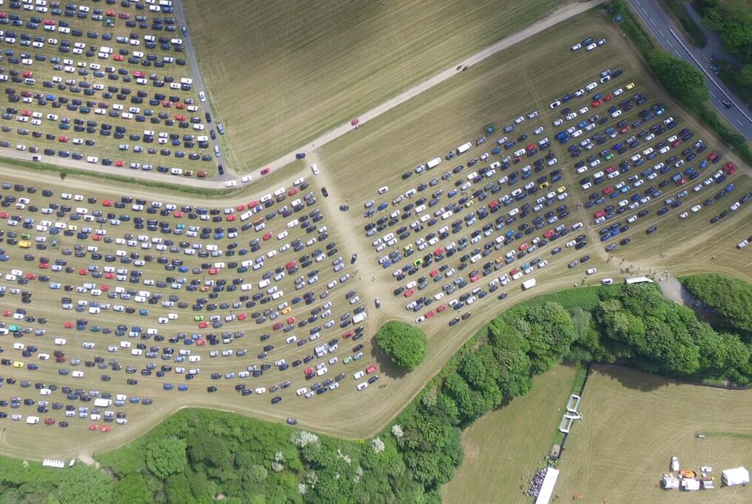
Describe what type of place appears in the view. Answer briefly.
parking lot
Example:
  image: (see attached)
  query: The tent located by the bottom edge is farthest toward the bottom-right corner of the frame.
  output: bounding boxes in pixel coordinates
[718,463,750,487]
